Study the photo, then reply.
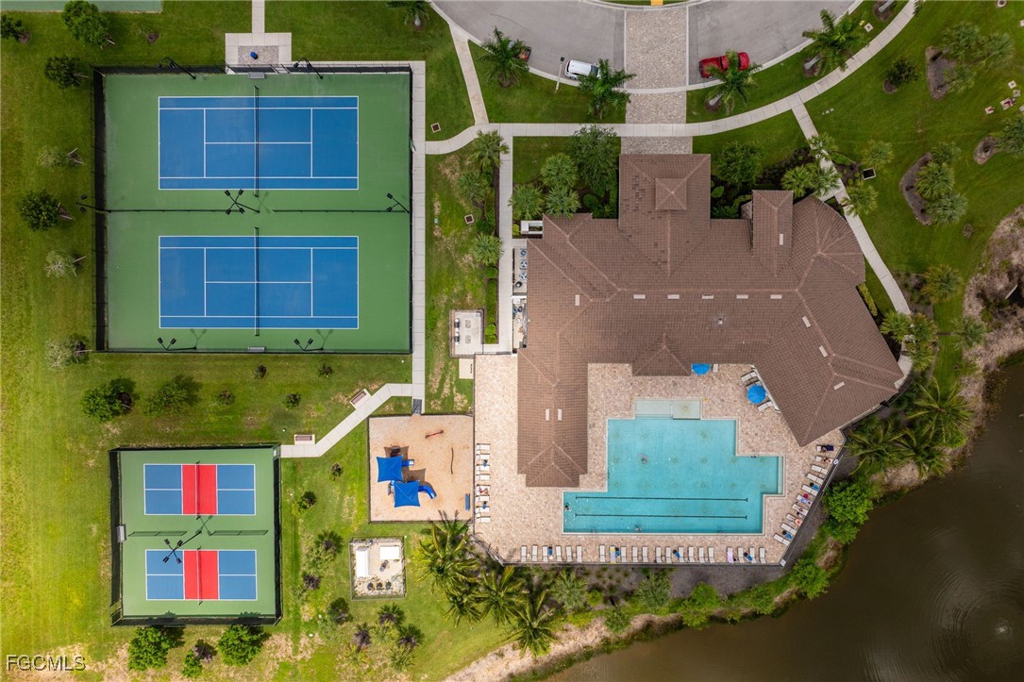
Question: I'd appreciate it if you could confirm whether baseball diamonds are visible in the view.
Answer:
No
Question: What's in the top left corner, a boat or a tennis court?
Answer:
tennis court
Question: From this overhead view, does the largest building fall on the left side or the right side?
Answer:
right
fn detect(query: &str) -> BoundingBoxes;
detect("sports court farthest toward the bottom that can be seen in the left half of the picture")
[122,532,275,617]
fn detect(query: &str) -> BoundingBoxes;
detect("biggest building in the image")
[517,152,905,488]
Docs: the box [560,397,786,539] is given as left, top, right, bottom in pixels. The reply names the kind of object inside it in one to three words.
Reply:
swimming pool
